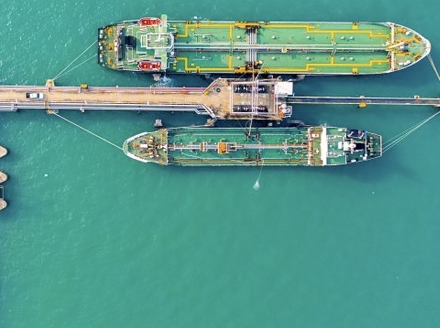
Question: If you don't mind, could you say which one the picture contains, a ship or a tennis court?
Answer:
ship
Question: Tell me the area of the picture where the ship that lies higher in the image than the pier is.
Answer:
top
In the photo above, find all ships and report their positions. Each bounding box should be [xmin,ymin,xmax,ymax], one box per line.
[98,14,431,76]
[124,127,381,166]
